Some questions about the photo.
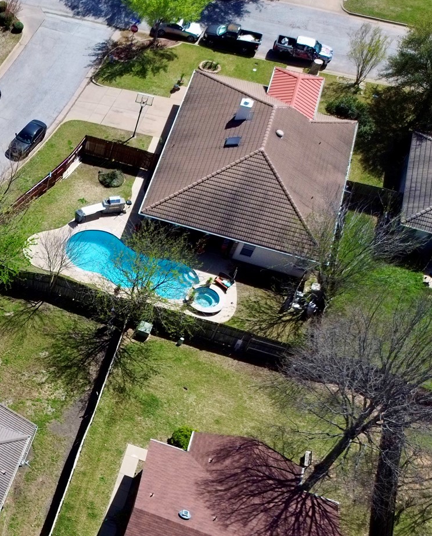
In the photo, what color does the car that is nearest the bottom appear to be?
black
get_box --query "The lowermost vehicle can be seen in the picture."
[8,122,50,159]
